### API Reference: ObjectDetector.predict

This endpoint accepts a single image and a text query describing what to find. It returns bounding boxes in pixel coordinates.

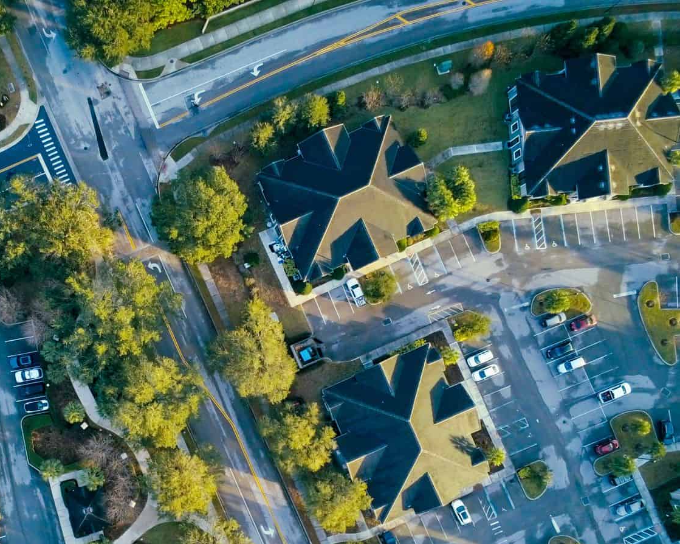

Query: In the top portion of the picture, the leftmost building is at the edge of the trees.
[258,115,437,281]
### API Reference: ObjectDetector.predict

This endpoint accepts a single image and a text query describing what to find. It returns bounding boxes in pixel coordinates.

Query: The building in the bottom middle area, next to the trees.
[322,342,491,524]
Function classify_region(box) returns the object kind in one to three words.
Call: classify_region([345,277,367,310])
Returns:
truck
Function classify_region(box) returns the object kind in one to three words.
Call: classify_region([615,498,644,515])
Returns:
car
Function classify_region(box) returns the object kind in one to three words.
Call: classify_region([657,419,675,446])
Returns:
car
